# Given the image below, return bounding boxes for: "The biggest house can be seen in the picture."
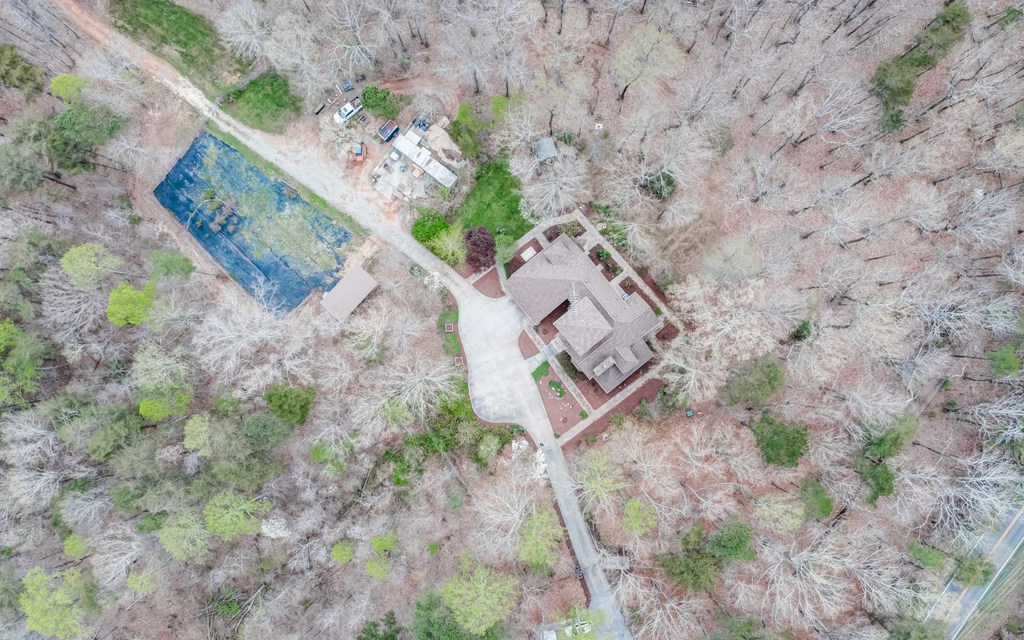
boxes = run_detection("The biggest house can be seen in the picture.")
[502,232,661,395]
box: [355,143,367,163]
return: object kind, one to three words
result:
vehicle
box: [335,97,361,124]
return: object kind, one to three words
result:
truck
